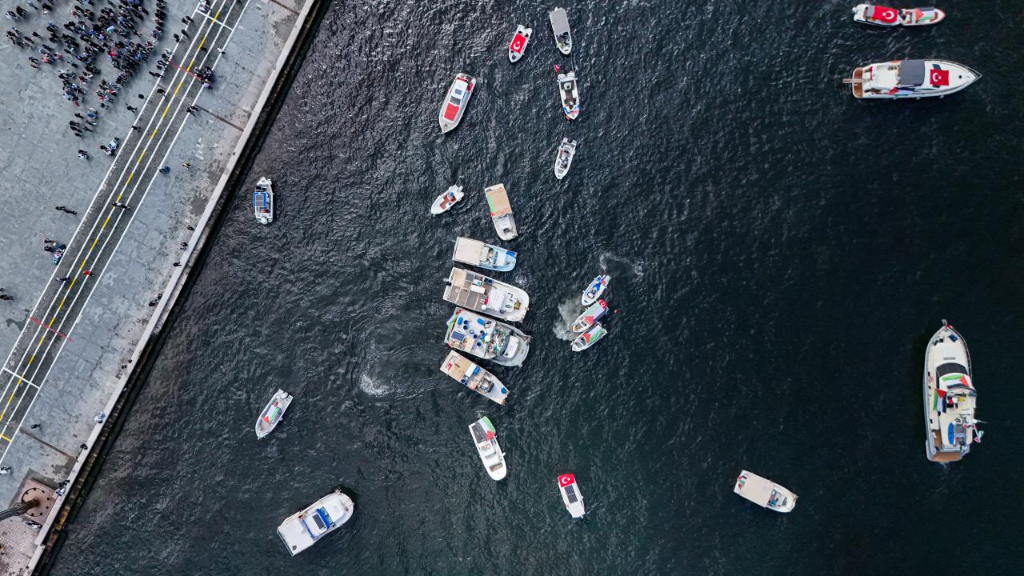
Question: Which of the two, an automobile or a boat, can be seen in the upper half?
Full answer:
The feature located in the upper half is a boat.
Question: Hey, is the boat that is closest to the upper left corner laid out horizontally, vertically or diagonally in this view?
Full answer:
In this picture, the boat that is closest to the upper left corner lies vertically.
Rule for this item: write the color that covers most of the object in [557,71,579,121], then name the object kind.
white boat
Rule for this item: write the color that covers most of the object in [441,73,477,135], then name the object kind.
white boat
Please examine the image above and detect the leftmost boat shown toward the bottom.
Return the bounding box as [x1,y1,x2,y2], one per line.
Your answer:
[255,388,294,439]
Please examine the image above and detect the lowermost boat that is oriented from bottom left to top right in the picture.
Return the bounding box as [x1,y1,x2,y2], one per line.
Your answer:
[277,489,355,553]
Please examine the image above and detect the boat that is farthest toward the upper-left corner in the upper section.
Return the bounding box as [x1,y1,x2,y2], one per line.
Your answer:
[254,176,275,224]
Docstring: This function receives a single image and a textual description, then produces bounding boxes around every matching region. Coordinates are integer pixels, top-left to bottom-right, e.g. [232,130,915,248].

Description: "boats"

[443,268,530,319]
[277,489,355,553]
[583,276,608,305]
[431,181,464,214]
[901,8,946,26]
[559,472,585,518]
[557,71,579,121]
[843,56,982,100]
[254,176,275,224]
[922,319,986,461]
[851,5,903,27]
[556,138,577,179]
[550,6,572,55]
[573,301,608,331]
[453,237,517,270]
[440,350,509,405]
[468,418,505,481]
[441,73,477,135]
[484,183,516,241]
[571,321,606,350]
[255,388,294,439]
[447,308,532,367]
[508,25,533,62]
[733,470,798,510]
